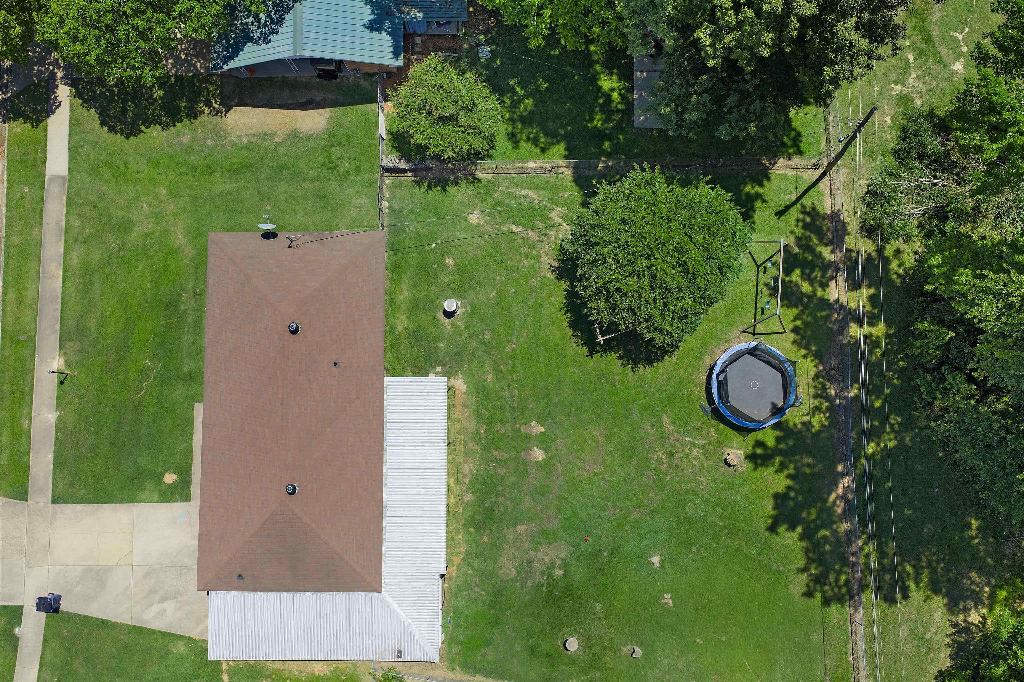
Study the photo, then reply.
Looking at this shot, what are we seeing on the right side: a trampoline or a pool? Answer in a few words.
trampoline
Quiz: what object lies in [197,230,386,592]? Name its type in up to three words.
house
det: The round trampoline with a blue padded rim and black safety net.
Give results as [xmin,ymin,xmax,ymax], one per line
[709,335,805,435]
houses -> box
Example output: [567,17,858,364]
[203,0,405,74]
[197,230,386,592]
